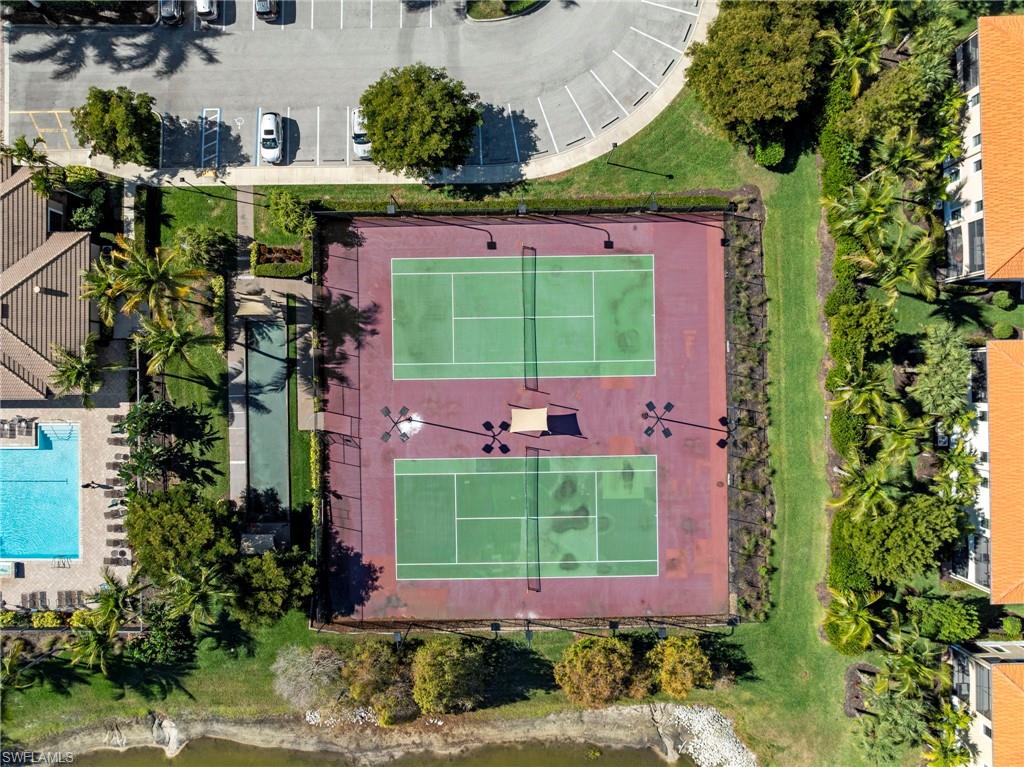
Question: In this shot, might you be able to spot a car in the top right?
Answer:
No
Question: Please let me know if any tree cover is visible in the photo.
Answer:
Yes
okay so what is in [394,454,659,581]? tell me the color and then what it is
green tennis court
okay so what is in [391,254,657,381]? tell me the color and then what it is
green tennis court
